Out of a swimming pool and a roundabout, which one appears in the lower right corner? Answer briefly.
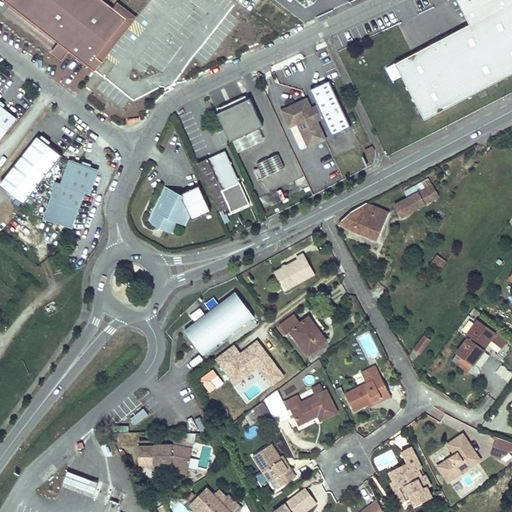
swimming pool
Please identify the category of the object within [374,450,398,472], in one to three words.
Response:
swimming pool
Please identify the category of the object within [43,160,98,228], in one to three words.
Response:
building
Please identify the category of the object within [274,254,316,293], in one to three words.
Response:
house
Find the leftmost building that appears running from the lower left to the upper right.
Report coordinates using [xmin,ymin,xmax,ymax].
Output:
[0,136,60,204]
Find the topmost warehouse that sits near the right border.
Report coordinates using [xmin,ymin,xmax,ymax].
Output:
[395,0,512,122]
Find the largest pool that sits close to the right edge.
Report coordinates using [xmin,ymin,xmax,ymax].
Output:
[451,466,488,498]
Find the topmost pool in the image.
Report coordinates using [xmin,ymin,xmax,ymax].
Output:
[356,331,381,364]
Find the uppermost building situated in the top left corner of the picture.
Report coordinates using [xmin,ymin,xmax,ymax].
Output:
[6,0,137,69]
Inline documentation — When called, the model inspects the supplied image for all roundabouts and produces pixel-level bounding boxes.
[90,246,172,326]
